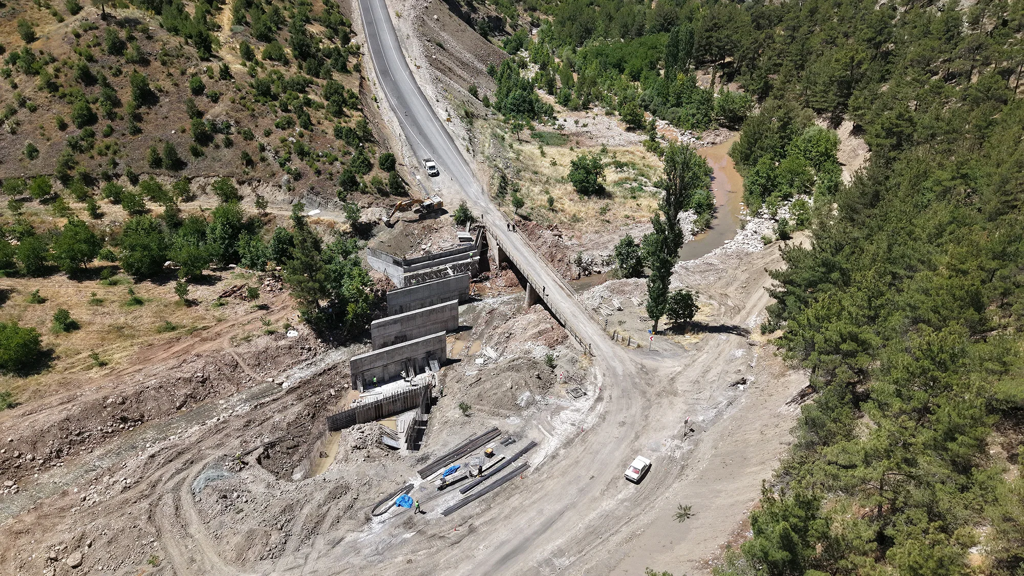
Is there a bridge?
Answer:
Yes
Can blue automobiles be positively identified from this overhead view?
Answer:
No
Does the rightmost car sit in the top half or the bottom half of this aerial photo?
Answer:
bottom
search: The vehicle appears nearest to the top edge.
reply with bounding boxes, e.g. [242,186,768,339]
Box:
[422,160,439,175]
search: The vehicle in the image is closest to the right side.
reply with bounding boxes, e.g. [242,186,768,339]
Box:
[623,450,653,481]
